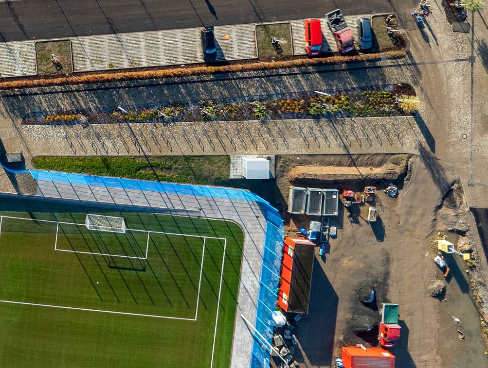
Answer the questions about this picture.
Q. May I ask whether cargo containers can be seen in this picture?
Yes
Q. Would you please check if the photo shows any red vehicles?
Yes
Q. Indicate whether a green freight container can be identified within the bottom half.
No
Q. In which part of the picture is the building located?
center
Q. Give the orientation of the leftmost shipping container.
from top to bottom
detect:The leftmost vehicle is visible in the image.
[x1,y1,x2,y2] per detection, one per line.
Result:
[202,23,218,59]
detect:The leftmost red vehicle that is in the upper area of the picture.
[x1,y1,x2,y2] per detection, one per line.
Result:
[302,17,322,54]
